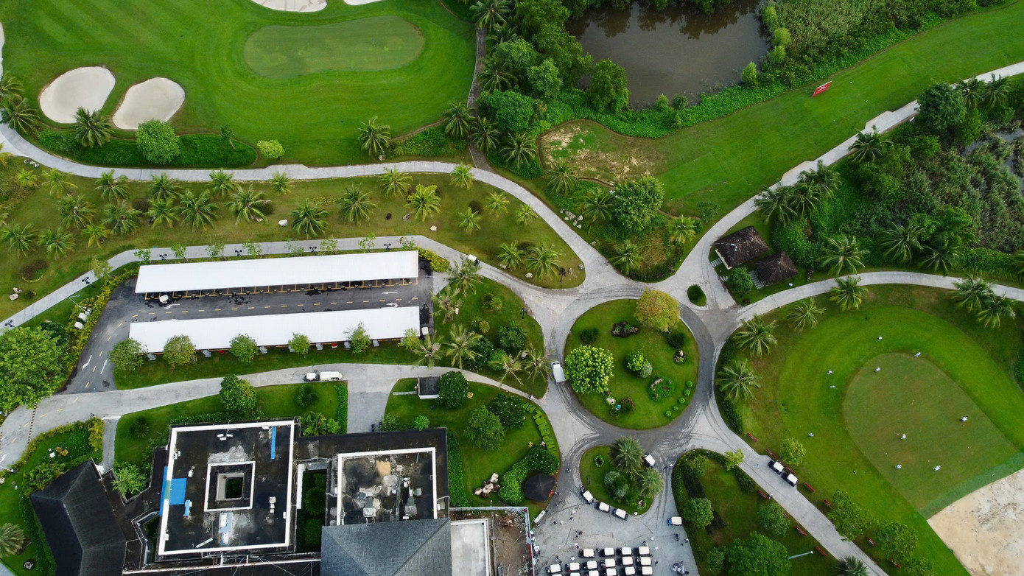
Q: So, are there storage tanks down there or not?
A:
No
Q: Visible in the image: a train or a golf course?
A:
golf course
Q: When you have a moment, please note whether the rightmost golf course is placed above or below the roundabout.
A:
above it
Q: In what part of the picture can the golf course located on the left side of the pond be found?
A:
top left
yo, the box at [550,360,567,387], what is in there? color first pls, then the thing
white vehicle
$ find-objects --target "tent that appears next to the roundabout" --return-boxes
[524,473,555,501]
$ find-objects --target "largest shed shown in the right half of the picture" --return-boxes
[712,225,770,271]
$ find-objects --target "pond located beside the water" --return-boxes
[553,4,770,109]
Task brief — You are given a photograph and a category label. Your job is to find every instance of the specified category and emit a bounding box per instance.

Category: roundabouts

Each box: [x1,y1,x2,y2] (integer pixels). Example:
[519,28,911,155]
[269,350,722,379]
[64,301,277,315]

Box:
[550,288,712,474]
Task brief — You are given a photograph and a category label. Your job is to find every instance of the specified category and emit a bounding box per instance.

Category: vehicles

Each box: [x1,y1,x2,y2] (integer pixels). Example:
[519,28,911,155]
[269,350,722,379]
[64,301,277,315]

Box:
[641,454,656,468]
[780,473,798,487]
[422,327,430,341]
[767,461,785,474]
[546,564,563,573]
[579,490,593,505]
[635,557,652,566]
[619,567,636,576]
[467,254,479,268]
[582,561,599,570]
[599,548,616,557]
[584,570,601,576]
[550,360,567,387]
[579,549,596,558]
[637,567,654,575]
[304,374,318,384]
[616,547,633,556]
[594,502,611,514]
[566,571,582,576]
[617,557,634,566]
[666,517,683,526]
[160,294,173,309]
[318,370,345,383]
[601,568,618,576]
[610,508,627,521]
[600,559,617,568]
[565,562,582,571]
[634,546,651,556]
